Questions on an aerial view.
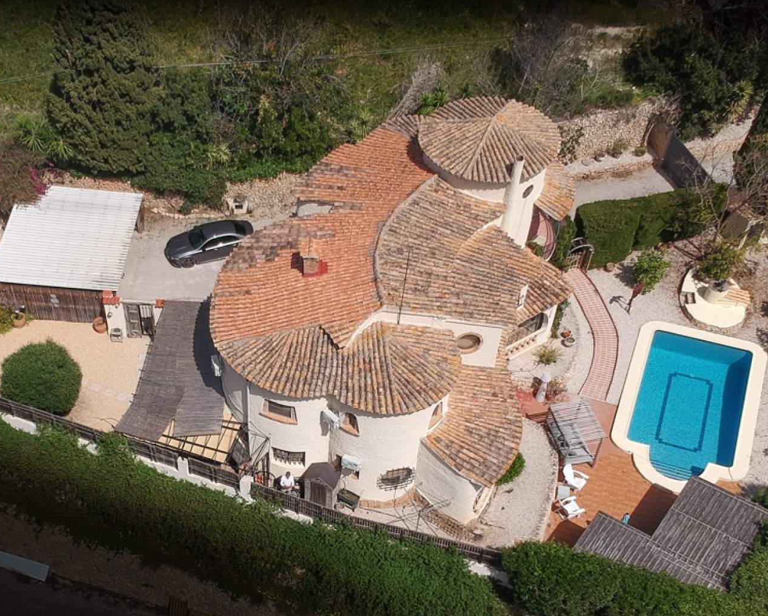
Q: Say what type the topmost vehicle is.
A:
automobile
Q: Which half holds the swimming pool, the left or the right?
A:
right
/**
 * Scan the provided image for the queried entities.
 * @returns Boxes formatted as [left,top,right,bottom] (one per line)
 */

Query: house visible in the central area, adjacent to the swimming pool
[207,100,577,525]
